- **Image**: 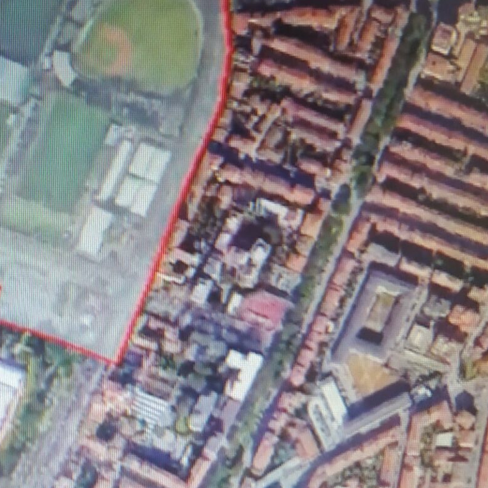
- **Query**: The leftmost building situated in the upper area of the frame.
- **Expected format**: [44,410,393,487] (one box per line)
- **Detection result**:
[51,50,77,85]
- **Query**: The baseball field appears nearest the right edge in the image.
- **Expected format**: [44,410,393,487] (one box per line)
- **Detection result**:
[76,0,201,93]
